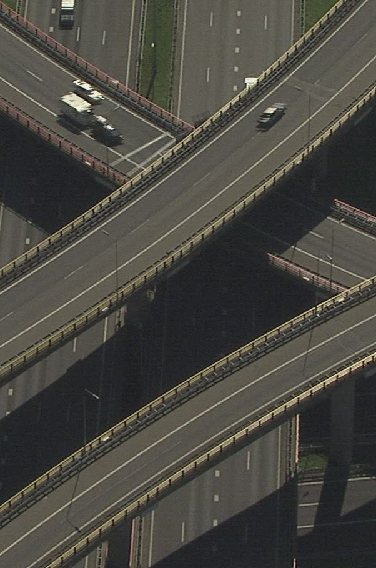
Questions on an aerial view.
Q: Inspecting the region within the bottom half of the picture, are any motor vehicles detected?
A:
No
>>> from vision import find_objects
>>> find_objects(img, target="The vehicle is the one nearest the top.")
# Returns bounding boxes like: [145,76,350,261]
[57,0,76,26]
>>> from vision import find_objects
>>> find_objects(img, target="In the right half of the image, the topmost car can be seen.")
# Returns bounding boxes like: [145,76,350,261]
[241,68,259,89]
